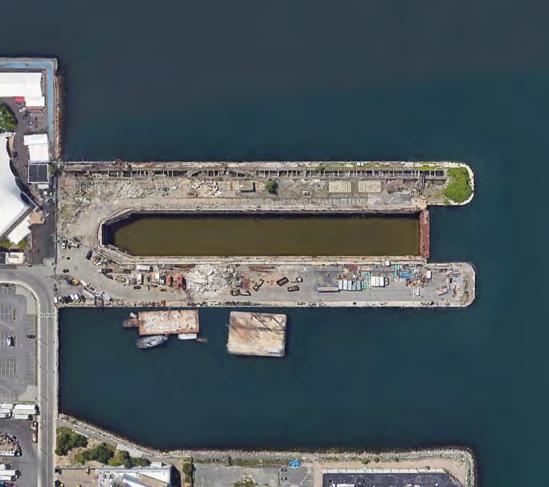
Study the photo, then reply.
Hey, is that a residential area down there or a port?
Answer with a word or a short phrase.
port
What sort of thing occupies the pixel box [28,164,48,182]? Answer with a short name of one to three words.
building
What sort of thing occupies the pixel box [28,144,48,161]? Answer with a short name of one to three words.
shed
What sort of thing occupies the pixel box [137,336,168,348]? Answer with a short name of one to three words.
boat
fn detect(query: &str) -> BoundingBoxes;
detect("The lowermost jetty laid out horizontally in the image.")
[60,246,476,308]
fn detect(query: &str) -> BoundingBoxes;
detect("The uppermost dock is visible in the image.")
[58,161,473,220]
